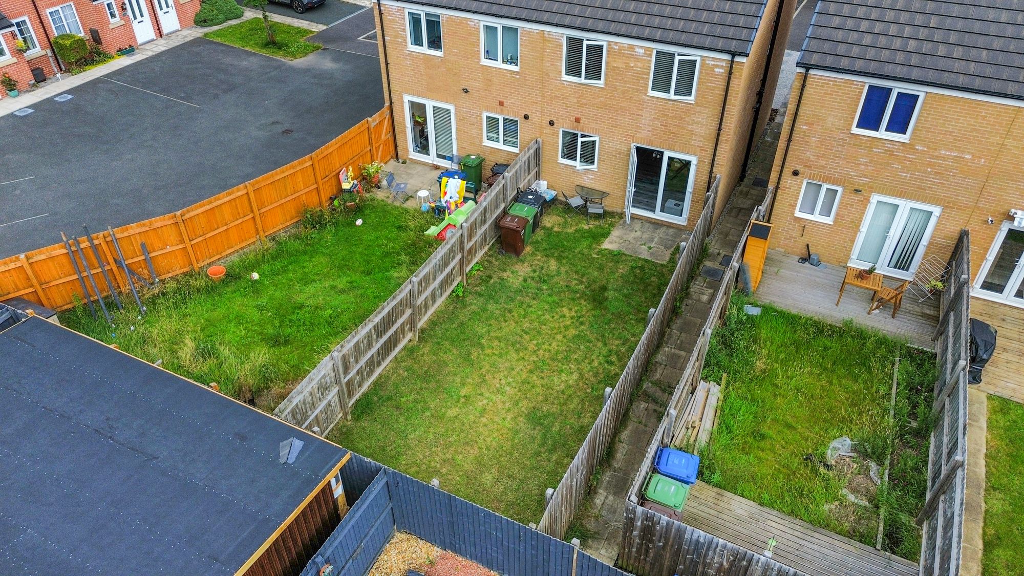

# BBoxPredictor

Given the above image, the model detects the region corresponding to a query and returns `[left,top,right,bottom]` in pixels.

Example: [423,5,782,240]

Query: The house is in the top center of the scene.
[377,0,793,235]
